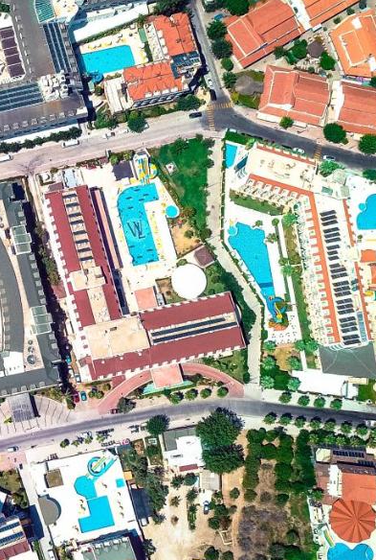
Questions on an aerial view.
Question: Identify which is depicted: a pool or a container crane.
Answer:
pool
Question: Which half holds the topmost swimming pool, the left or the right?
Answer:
left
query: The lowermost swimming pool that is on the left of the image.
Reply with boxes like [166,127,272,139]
[77,494,116,534]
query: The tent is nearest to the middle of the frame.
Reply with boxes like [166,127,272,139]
[168,263,205,299]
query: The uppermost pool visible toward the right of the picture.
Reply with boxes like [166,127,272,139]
[225,142,238,170]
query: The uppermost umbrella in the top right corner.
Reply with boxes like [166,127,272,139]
[308,41,325,59]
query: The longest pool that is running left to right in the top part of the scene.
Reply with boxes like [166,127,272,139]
[75,44,135,75]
